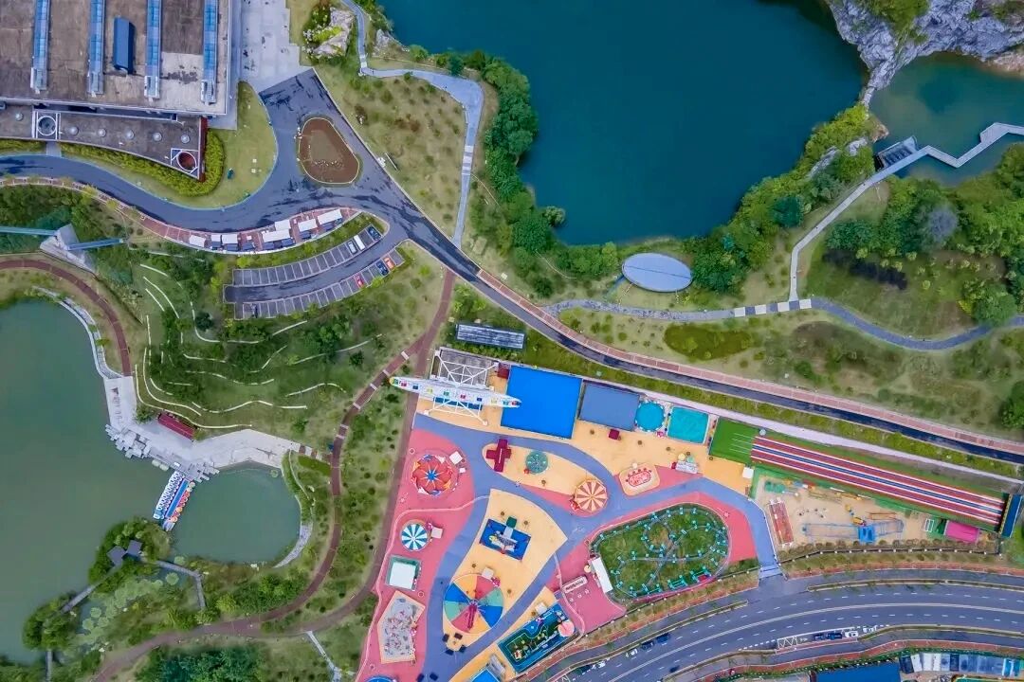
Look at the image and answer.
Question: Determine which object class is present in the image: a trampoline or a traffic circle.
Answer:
trampoline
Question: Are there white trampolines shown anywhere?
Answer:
Yes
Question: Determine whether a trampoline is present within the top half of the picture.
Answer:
No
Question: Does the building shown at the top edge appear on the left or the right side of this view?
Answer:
left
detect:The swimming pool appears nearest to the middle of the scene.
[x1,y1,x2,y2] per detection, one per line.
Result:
[636,401,666,431]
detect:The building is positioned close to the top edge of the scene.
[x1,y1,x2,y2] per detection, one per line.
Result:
[0,0,241,183]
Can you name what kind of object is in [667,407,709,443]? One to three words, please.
swimming pool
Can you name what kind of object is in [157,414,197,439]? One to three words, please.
building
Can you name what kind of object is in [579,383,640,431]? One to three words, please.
building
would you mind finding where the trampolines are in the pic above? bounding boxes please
[385,554,421,590]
